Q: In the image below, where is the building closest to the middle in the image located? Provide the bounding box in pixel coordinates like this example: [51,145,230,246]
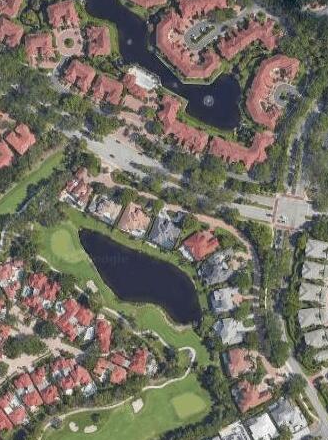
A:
[148,209,184,248]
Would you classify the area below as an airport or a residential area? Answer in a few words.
residential area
